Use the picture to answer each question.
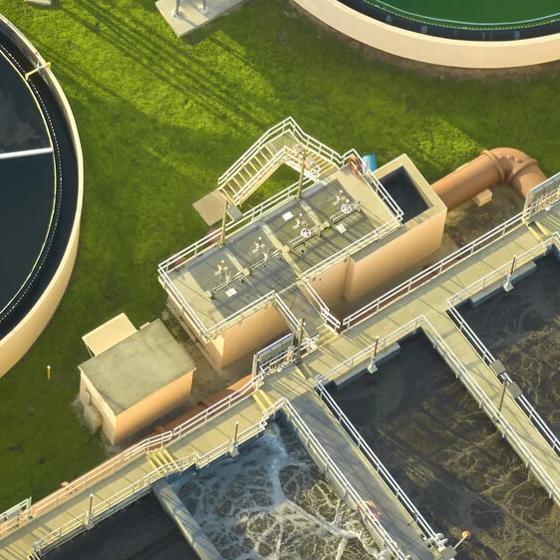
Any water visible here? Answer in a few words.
Yes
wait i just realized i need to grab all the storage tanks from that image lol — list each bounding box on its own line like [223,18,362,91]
[292,0,560,69]
[0,15,84,381]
